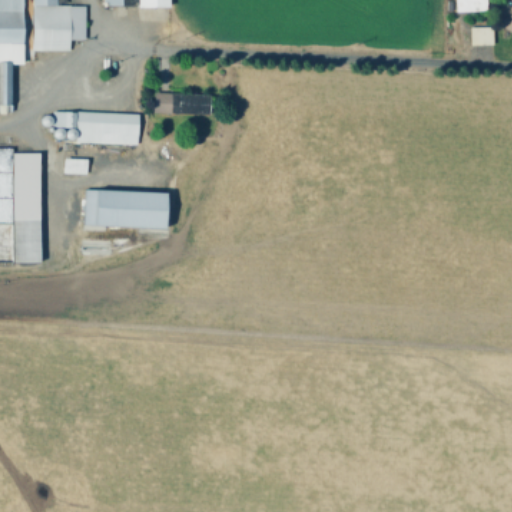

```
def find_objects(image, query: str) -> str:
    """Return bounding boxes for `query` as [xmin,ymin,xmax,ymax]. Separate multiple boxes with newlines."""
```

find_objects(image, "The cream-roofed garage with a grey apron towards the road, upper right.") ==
[472,27,495,46]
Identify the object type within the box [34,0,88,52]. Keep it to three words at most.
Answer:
building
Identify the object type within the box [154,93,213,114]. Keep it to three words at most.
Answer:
house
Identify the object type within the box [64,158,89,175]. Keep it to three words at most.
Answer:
shed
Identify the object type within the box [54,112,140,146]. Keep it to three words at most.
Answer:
barn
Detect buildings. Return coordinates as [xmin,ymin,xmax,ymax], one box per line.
[84,191,170,232]
[34,0,88,52]
[457,0,490,13]
[14,153,42,262]
[64,158,89,175]
[54,112,140,146]
[472,27,495,46]
[106,0,138,6]
[154,93,213,114]
[140,0,172,8]
[0,148,14,262]
[0,0,26,64]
